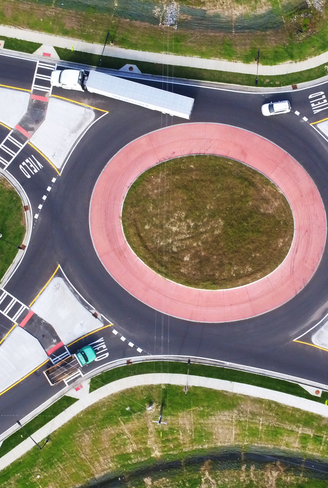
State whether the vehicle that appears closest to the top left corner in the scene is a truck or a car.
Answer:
truck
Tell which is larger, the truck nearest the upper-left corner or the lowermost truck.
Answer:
the truck nearest the upper-left corner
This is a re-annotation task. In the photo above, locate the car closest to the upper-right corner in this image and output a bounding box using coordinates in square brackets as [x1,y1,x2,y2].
[260,101,292,117]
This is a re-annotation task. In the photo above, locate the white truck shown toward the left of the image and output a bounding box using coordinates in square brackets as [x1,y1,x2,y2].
[57,61,194,118]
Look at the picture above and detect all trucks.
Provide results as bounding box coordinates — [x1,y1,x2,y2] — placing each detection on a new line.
[57,61,194,118]
[38,344,101,385]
